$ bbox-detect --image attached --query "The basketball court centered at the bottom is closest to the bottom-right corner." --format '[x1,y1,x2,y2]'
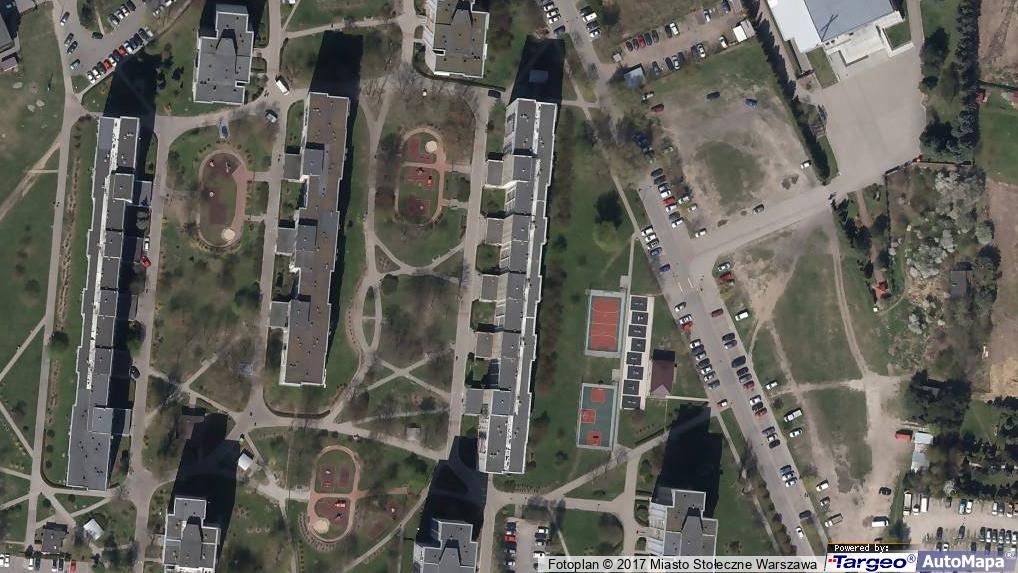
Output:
[577,384,618,452]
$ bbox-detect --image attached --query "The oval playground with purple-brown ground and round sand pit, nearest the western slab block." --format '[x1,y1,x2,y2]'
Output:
[198,148,247,249]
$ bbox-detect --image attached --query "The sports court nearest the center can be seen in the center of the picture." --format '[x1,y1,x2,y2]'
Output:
[586,290,625,358]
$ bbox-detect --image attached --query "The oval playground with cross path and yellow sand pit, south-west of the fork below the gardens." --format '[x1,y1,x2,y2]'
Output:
[306,447,362,544]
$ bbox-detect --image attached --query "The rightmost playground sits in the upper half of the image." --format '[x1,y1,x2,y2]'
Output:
[394,126,448,226]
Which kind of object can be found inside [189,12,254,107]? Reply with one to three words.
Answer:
building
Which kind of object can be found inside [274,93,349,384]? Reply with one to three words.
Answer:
building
